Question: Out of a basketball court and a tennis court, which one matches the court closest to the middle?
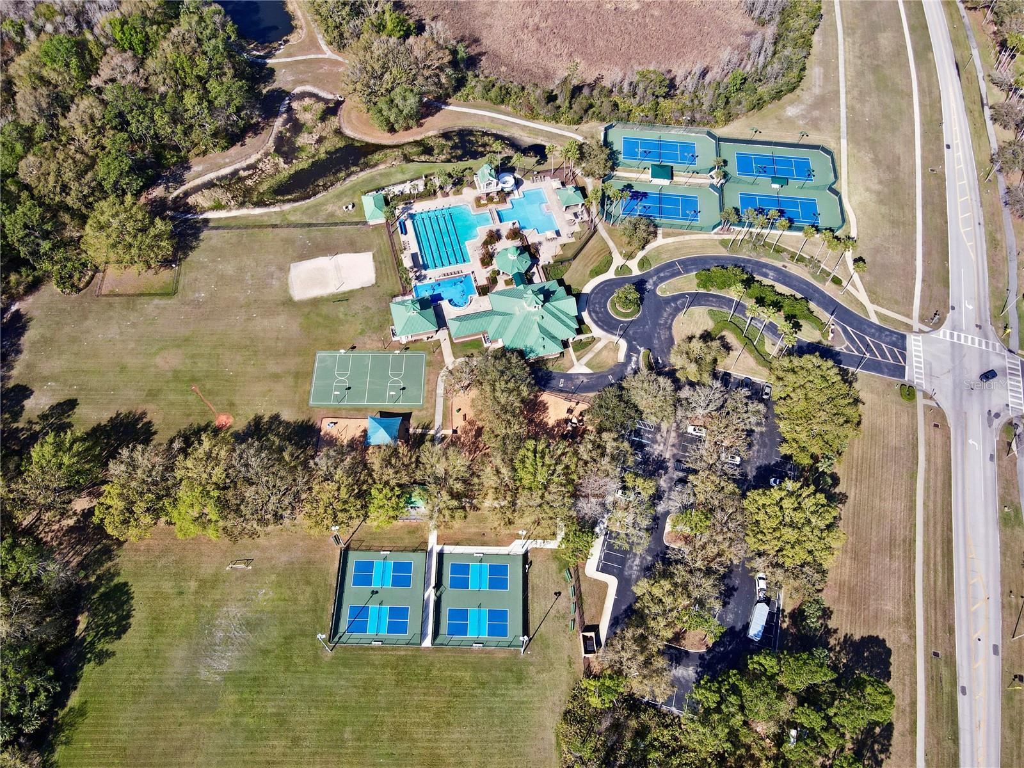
basketball court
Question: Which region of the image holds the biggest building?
center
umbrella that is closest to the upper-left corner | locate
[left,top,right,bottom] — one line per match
[400,254,417,266]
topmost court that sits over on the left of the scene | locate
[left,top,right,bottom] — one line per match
[287,251,376,302]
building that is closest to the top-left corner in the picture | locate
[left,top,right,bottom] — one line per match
[363,194,386,227]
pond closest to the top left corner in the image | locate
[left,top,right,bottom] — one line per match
[225,0,292,42]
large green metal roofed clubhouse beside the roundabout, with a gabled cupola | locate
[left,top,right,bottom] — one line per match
[448,280,580,361]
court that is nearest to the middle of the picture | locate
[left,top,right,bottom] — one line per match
[365,351,426,408]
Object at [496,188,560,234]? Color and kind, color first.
blue swimming pool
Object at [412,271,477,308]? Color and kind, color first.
blue swimming pool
